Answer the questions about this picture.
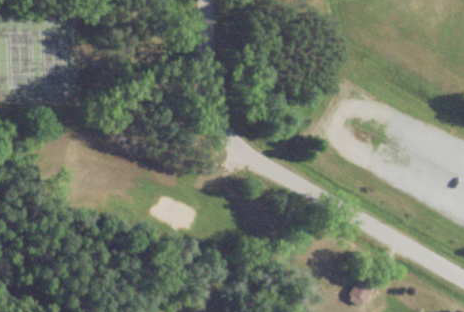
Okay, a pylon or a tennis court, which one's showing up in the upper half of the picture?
tennis court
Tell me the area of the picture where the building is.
bottom right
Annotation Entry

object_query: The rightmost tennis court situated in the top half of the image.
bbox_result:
[38,22,79,100]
